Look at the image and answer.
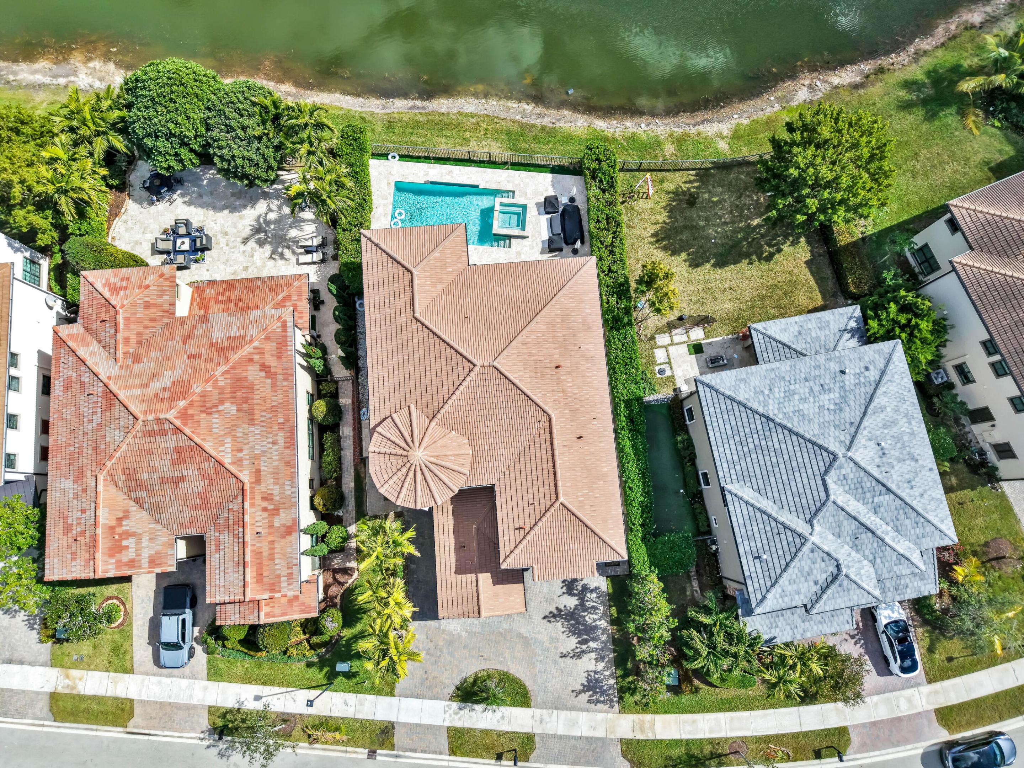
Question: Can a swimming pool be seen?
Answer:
Yes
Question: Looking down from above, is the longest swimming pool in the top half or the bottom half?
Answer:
top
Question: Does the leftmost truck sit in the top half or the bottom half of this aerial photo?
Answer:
bottom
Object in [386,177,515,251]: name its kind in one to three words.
swimming pool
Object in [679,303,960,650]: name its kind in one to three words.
house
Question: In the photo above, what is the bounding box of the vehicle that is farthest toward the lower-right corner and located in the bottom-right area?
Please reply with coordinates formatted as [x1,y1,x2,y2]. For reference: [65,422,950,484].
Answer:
[935,733,1020,768]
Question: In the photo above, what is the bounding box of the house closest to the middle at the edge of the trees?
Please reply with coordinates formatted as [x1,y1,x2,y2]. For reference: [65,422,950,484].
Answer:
[359,221,628,618]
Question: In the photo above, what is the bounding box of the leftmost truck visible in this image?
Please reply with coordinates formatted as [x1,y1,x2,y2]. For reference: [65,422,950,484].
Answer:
[155,583,199,669]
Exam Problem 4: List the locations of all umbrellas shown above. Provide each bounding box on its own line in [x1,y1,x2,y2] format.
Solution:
[568,185,578,205]
[570,239,581,256]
